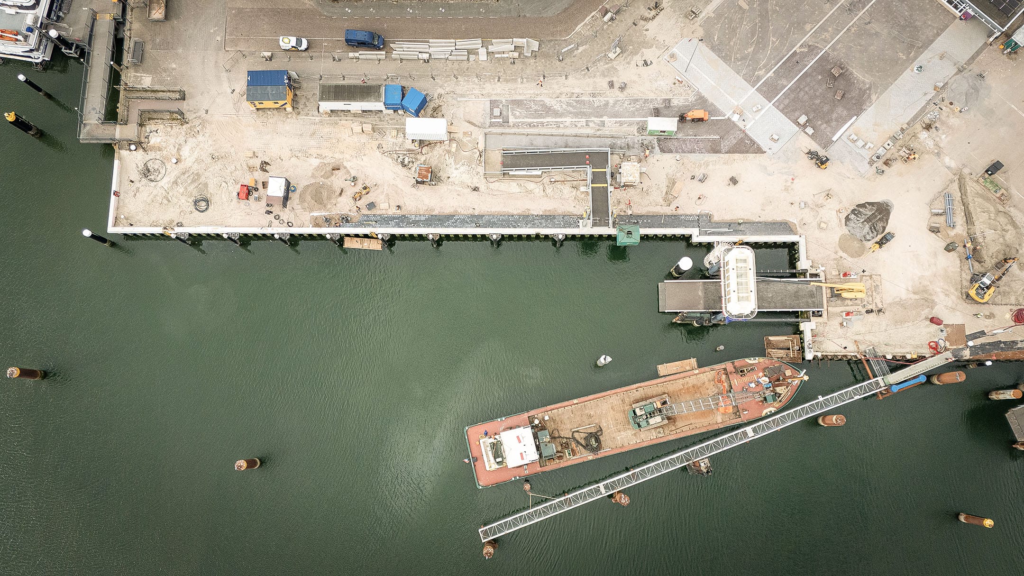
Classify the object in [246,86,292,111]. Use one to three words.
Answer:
building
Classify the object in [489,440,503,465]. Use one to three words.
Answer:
boat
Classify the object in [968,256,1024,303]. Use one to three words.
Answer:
work vehicle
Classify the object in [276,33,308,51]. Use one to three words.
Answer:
vehicle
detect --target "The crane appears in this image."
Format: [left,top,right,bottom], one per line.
[629,393,761,433]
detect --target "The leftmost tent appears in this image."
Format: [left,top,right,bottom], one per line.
[268,177,294,211]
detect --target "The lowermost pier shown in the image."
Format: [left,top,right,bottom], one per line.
[993,404,1024,450]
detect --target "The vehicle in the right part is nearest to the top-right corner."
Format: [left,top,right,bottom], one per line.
[1002,24,1024,54]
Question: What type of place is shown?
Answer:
port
